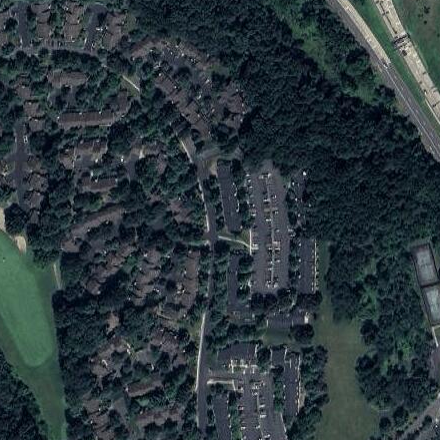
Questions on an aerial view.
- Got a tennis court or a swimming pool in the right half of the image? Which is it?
tennis court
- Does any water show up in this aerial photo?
No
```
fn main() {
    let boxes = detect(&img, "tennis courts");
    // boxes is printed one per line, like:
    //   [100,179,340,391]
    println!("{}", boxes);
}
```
[421,282,440,327]
[412,244,439,287]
